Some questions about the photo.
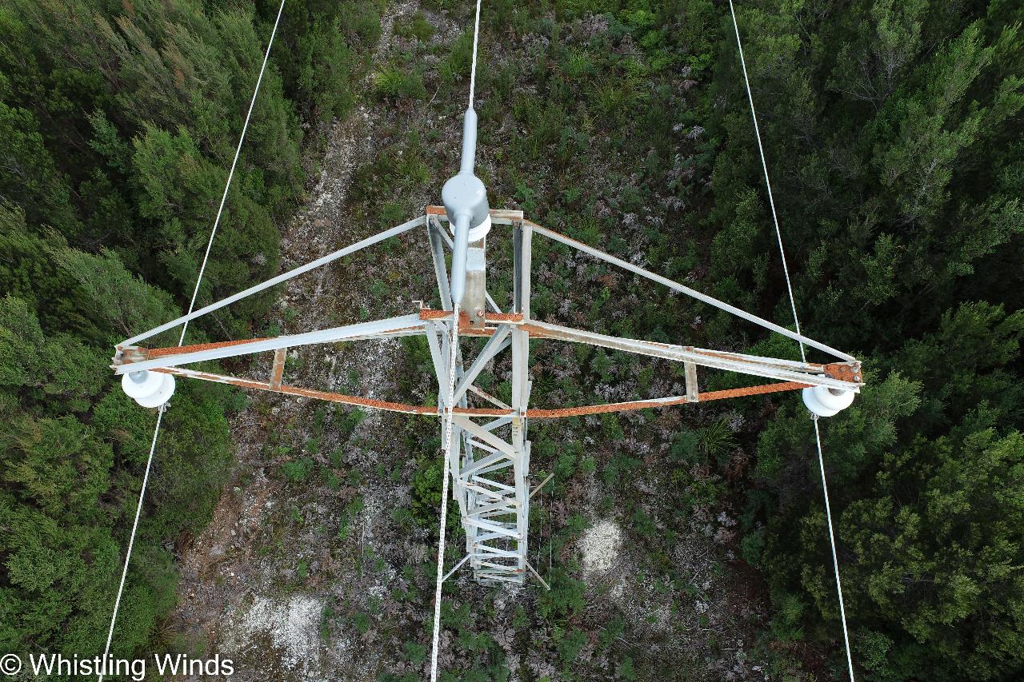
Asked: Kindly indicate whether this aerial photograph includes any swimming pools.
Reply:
No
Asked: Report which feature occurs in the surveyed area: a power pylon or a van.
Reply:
power pylon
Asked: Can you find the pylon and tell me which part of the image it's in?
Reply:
center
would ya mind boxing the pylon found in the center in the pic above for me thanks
[111,206,864,586]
